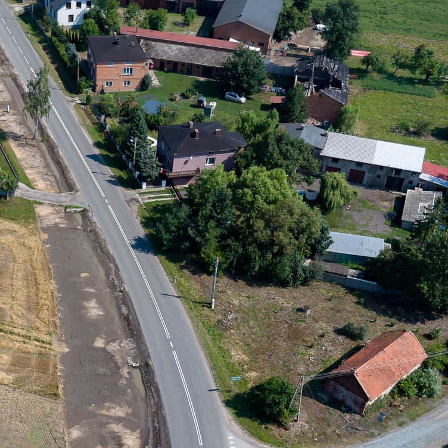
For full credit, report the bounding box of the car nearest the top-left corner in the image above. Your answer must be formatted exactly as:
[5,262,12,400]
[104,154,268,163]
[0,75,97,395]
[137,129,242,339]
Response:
[196,93,208,108]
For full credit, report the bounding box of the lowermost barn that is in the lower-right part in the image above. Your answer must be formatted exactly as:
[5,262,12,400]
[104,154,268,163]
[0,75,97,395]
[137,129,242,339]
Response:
[328,330,431,416]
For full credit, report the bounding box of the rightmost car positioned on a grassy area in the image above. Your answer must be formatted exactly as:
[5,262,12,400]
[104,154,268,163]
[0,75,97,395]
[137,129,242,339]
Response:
[223,90,247,104]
